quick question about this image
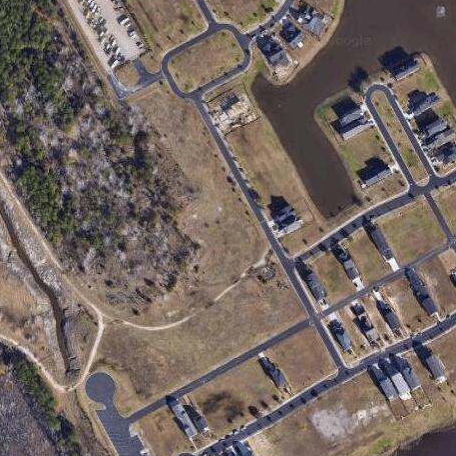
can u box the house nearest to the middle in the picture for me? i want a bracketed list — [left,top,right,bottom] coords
[275,209,308,232]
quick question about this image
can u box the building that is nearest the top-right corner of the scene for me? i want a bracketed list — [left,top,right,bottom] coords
[385,57,423,83]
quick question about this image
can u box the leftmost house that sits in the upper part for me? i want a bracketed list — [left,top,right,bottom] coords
[218,90,247,122]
